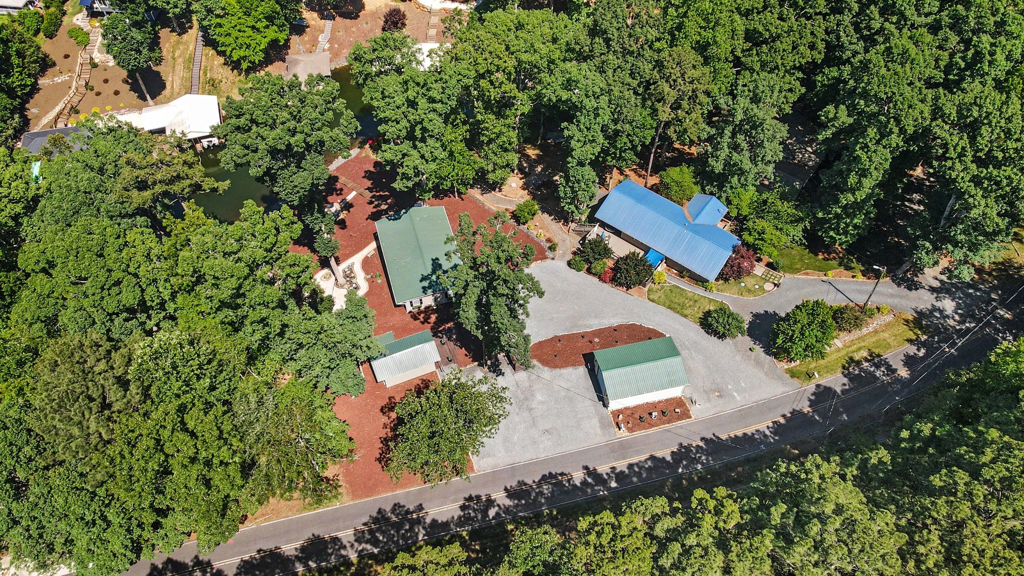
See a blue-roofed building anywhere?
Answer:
Yes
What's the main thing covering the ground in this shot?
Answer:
trees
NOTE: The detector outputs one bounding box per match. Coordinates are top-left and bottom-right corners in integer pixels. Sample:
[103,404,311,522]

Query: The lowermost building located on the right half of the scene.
[595,337,689,408]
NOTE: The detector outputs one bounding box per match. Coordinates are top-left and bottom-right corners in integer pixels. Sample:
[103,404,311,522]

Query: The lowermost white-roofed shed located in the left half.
[370,330,441,388]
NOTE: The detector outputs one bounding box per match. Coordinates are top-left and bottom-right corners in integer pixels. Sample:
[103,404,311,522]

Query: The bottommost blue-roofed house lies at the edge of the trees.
[595,179,741,286]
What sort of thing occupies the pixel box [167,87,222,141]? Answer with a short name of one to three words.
building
